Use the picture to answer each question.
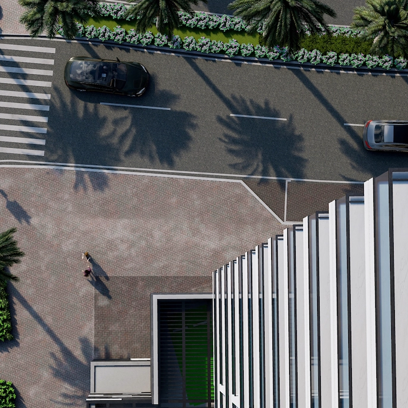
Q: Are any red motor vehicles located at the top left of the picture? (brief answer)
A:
No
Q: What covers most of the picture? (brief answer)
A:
paved ground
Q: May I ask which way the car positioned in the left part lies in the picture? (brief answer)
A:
horizontally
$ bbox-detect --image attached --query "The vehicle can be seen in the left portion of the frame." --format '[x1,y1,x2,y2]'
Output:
[64,58,149,99]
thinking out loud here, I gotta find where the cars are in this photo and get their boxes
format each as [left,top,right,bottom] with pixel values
[362,120,408,152]
[64,58,149,99]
